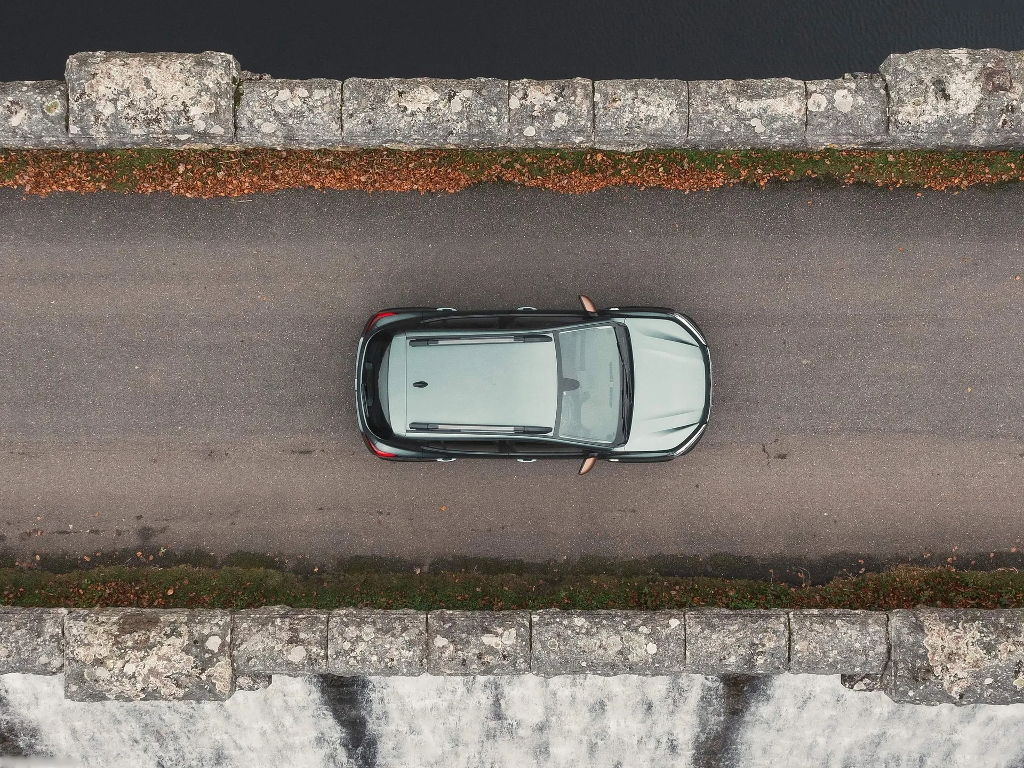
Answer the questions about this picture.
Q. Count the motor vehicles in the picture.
1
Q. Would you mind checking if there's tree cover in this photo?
No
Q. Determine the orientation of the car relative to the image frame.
horizontally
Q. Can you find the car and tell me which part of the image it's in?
center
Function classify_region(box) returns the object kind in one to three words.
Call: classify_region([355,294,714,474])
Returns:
car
